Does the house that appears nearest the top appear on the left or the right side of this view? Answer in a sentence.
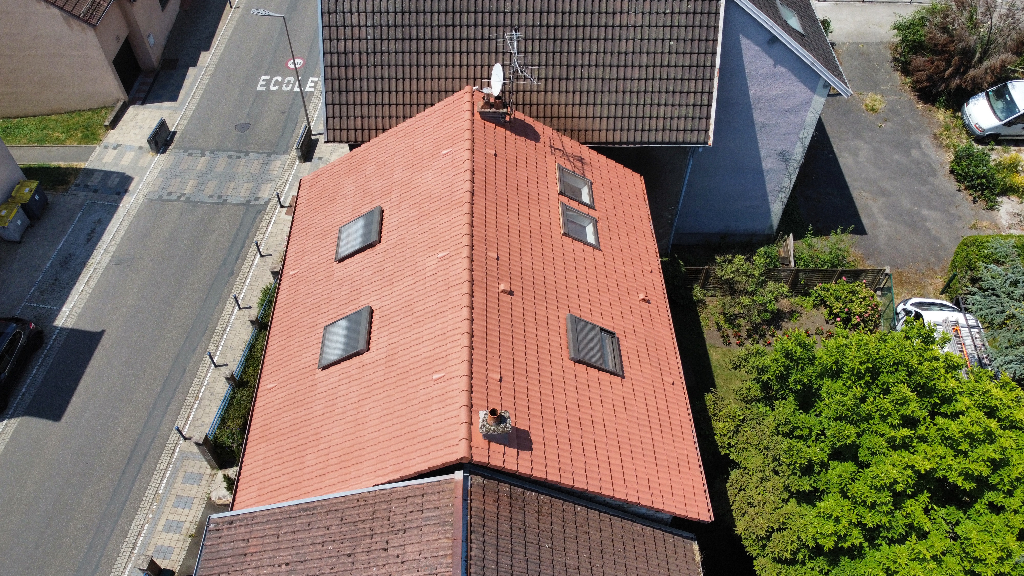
The house that appears nearest the top appears in the left half of the scene.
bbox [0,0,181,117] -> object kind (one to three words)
house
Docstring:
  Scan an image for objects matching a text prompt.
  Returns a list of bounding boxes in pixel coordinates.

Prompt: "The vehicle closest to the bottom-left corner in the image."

[0,319,44,423]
